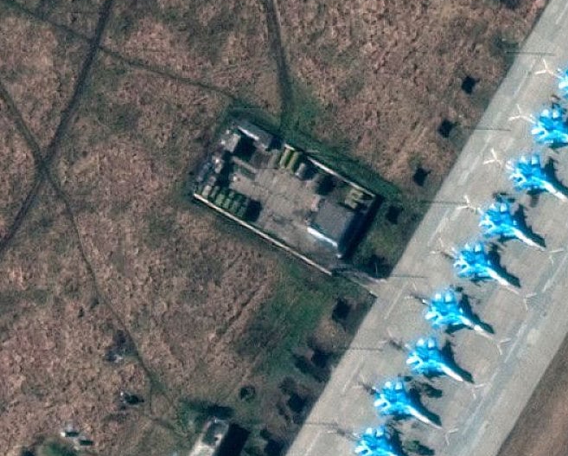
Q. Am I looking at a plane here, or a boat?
plane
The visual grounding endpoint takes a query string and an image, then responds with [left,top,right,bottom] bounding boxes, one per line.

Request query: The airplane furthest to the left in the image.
[352,428,397,456]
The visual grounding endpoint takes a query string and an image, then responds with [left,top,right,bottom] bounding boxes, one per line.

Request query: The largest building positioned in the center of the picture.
[307,200,354,246]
